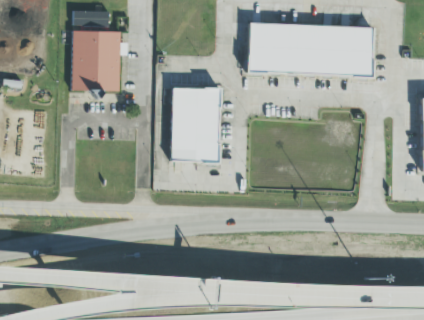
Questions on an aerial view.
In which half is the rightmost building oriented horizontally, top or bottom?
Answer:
top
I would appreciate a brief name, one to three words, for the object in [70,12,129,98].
building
